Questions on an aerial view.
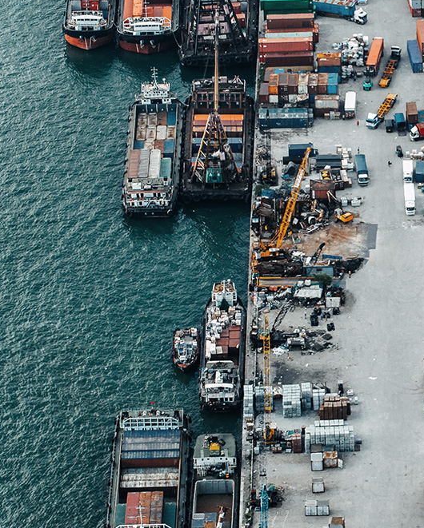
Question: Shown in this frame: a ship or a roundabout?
ship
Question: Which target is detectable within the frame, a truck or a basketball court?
truck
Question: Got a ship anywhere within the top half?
Yes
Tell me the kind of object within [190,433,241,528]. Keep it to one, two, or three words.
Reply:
ship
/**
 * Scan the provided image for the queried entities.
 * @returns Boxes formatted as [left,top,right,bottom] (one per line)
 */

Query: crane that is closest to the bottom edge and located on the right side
[255,483,273,528]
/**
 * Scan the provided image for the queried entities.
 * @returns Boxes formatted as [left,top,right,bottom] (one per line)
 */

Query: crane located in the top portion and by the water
[256,144,312,258]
